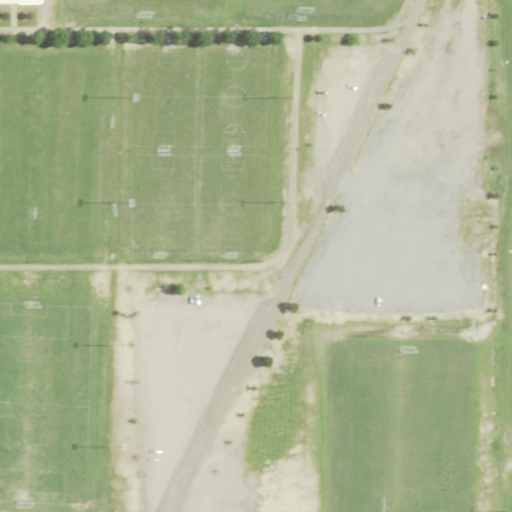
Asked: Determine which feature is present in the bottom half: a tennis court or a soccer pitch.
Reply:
soccer pitch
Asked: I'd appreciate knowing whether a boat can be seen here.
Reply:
No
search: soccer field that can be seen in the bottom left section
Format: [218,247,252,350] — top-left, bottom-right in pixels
[0,302,92,508]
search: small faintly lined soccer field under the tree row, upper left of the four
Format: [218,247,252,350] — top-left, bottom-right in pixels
[132,47,202,148]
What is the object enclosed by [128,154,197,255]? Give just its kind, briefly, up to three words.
soccer field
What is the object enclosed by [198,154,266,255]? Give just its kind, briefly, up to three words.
soccer field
